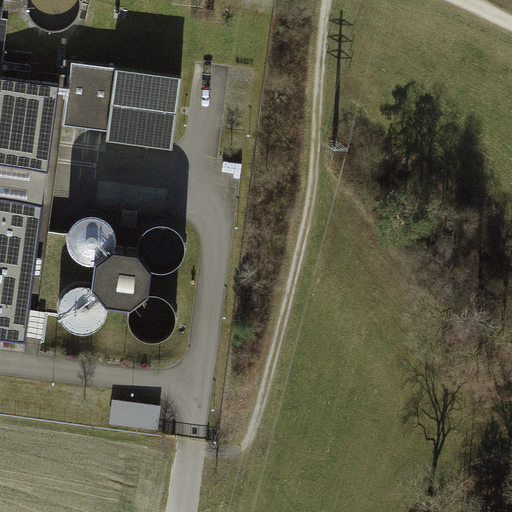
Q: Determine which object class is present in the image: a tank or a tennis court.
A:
tank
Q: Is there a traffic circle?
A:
No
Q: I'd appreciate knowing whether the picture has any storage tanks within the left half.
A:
Yes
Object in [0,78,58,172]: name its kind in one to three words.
building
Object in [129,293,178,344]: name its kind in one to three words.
storage tank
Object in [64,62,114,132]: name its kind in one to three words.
building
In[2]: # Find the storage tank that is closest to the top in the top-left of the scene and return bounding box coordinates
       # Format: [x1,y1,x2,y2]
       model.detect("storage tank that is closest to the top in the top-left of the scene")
[21,0,82,32]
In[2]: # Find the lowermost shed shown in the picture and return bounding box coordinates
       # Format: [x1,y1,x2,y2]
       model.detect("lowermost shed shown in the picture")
[109,400,160,430]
